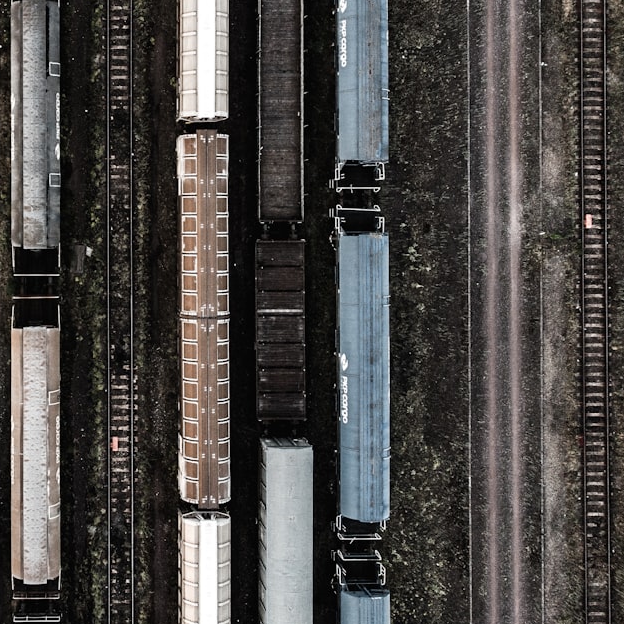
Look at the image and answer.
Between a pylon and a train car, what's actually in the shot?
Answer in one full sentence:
The one in the frame is a train car.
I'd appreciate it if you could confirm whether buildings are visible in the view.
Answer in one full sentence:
No, there is no building in the image.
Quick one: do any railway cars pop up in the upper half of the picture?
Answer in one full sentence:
Yes, a railway car shows up in the upper half of the picture.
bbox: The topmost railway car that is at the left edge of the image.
[11,0,62,286]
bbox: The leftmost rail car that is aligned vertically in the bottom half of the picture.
[9,286,62,605]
